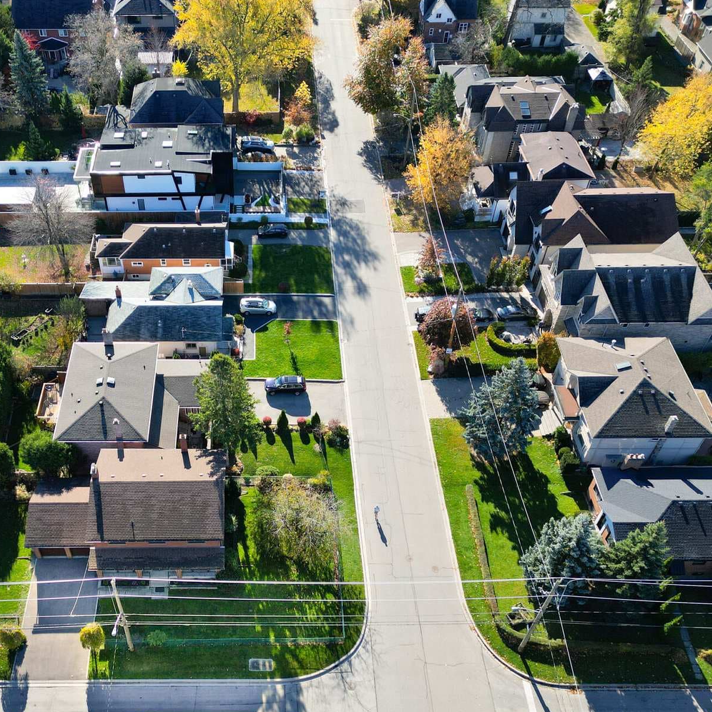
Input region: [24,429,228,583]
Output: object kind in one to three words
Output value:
house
